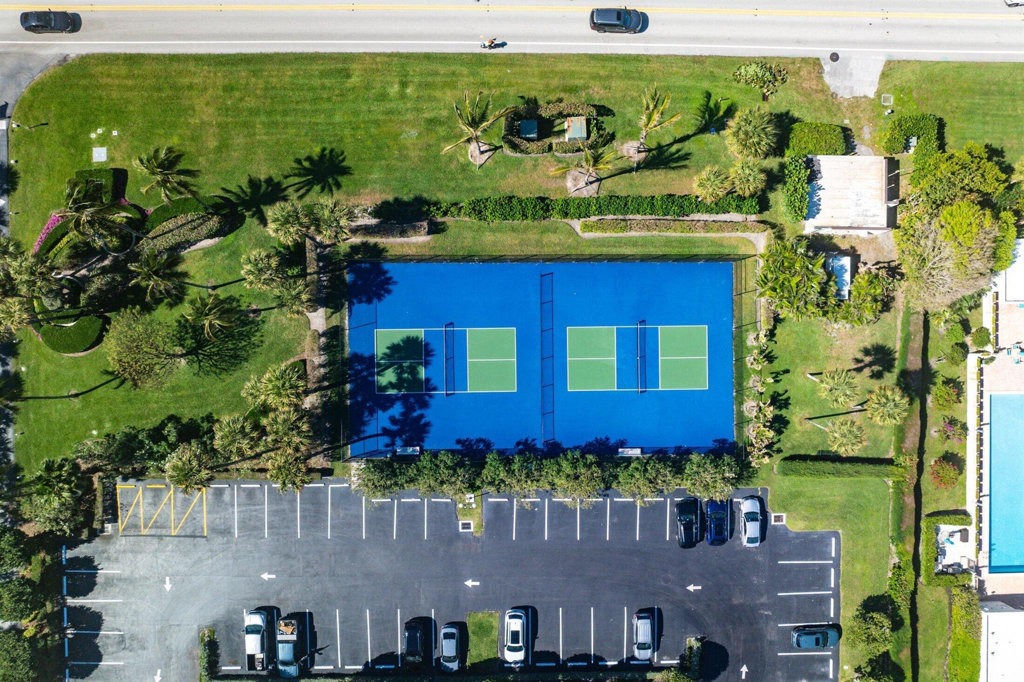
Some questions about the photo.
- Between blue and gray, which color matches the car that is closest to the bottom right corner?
blue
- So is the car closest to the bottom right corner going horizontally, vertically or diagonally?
horizontally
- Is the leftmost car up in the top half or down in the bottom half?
top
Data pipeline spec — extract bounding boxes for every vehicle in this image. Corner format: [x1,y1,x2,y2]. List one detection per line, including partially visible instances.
[241,609,269,673]
[273,617,300,677]
[21,9,76,35]
[503,608,527,662]
[704,497,730,547]
[632,611,656,660]
[438,622,461,672]
[589,6,641,35]
[674,499,699,549]
[789,625,840,652]
[738,496,763,548]
[401,617,425,669]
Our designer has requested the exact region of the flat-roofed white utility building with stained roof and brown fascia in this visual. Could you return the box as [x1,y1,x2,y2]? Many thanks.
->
[791,156,903,235]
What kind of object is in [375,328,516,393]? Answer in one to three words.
sports court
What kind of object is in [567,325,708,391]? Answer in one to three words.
sports court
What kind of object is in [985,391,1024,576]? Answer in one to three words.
swimming pool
